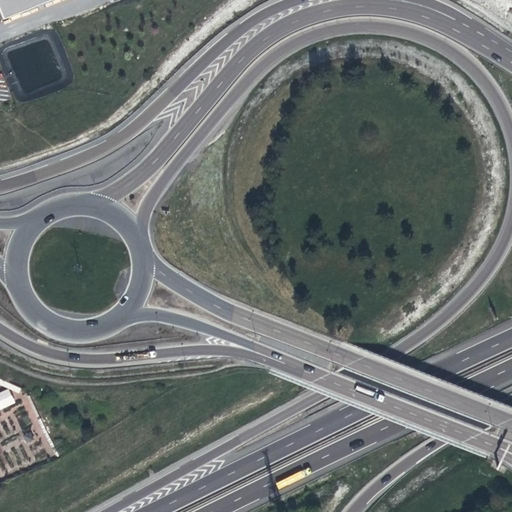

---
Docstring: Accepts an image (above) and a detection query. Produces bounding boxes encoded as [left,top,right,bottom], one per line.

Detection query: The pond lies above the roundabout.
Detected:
[0,30,72,100]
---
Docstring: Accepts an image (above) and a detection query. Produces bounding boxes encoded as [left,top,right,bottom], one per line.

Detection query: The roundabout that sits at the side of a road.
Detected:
[3,190,156,344]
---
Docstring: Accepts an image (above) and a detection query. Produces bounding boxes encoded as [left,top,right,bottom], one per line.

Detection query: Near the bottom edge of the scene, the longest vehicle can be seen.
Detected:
[278,467,312,490]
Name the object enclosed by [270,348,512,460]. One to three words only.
bridge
